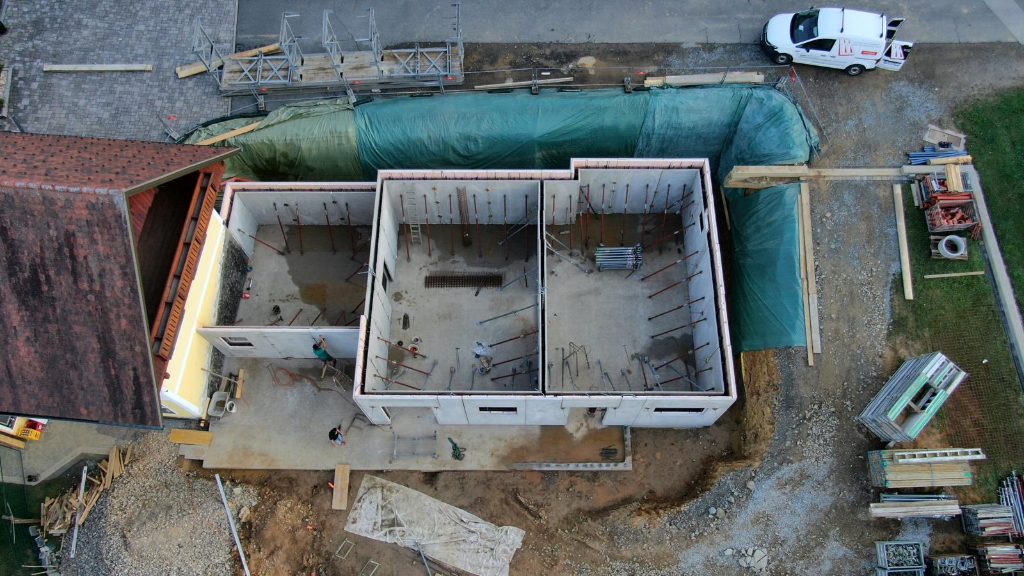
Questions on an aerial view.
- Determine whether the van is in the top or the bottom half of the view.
top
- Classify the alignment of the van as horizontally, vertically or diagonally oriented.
horizontally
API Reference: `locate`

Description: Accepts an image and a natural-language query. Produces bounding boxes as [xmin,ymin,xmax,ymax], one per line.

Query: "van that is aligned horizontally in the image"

[756,2,913,77]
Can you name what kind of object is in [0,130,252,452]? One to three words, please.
house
